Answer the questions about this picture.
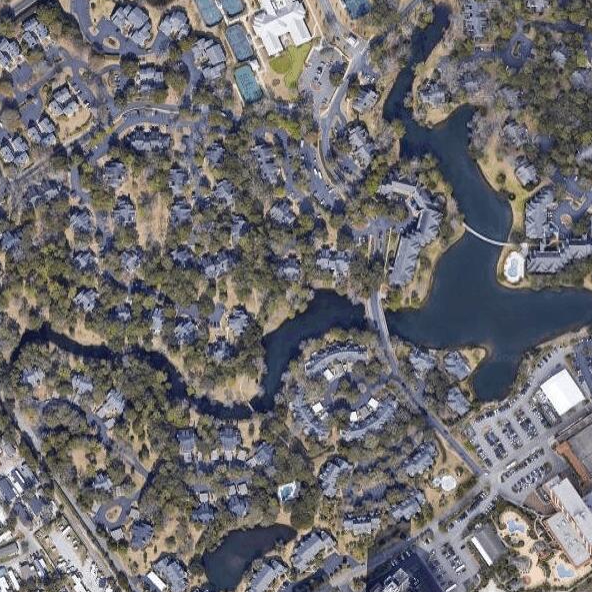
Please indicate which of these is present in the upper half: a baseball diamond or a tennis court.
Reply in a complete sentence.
The feature located in the upper half is a tennis court.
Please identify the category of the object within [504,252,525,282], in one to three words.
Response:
swimming pool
